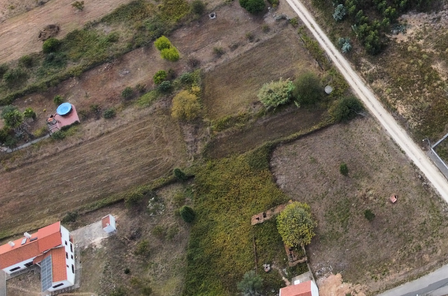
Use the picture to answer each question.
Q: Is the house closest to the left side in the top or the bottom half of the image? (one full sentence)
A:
The bottom half of the photo is where the house closest to the left side is.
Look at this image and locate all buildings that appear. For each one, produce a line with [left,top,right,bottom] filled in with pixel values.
[103,215,114,232]
[0,221,74,295]
[279,280,318,296]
